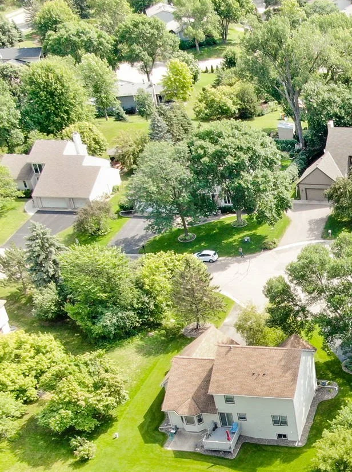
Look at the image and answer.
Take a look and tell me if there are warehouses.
No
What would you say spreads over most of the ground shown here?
trees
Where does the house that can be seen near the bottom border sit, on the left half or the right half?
right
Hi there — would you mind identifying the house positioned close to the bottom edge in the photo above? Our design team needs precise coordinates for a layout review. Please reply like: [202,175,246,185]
[161,325,335,456]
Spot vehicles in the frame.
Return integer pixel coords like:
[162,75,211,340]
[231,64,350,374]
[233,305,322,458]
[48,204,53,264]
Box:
[192,249,219,263]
